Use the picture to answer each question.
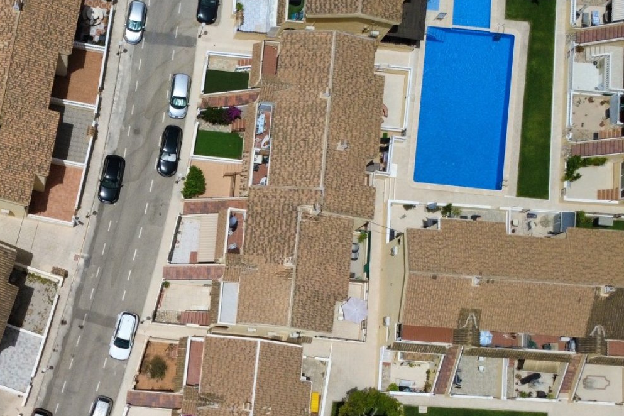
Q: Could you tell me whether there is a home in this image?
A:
Yes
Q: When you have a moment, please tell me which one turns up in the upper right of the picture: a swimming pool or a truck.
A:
swimming pool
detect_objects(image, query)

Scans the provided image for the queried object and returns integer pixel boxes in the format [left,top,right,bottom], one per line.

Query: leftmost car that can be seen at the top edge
[124,0,148,45]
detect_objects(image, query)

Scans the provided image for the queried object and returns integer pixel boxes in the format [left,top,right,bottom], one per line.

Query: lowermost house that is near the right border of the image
[383,219,624,368]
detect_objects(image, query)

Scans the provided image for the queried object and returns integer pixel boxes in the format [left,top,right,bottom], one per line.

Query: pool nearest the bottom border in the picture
[413,27,513,190]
